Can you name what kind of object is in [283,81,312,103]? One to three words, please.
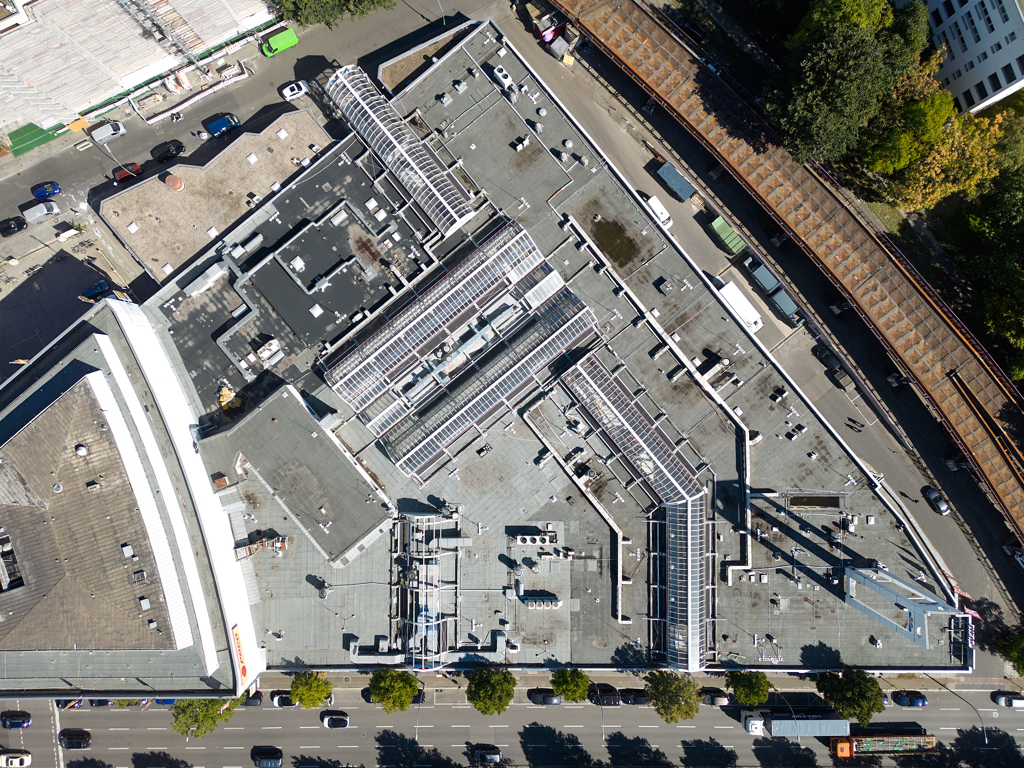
car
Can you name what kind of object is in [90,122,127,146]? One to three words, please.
vehicle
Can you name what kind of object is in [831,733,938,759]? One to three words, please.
truck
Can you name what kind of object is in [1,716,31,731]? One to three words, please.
car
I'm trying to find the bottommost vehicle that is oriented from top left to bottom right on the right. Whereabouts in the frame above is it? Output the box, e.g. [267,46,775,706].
[925,485,951,515]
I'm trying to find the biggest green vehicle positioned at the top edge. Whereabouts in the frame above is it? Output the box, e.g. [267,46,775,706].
[263,28,300,54]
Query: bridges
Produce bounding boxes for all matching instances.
[539,0,1024,549]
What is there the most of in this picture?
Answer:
buildings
